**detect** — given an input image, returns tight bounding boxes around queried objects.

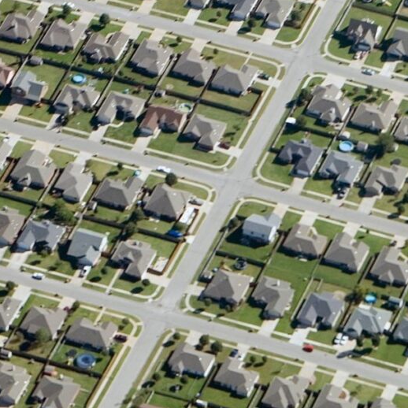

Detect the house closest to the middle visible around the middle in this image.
[143,187,193,223]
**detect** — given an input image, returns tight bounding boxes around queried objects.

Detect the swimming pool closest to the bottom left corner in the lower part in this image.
[75,353,96,369]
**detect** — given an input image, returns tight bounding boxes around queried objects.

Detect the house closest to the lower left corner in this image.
[0,365,37,408]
